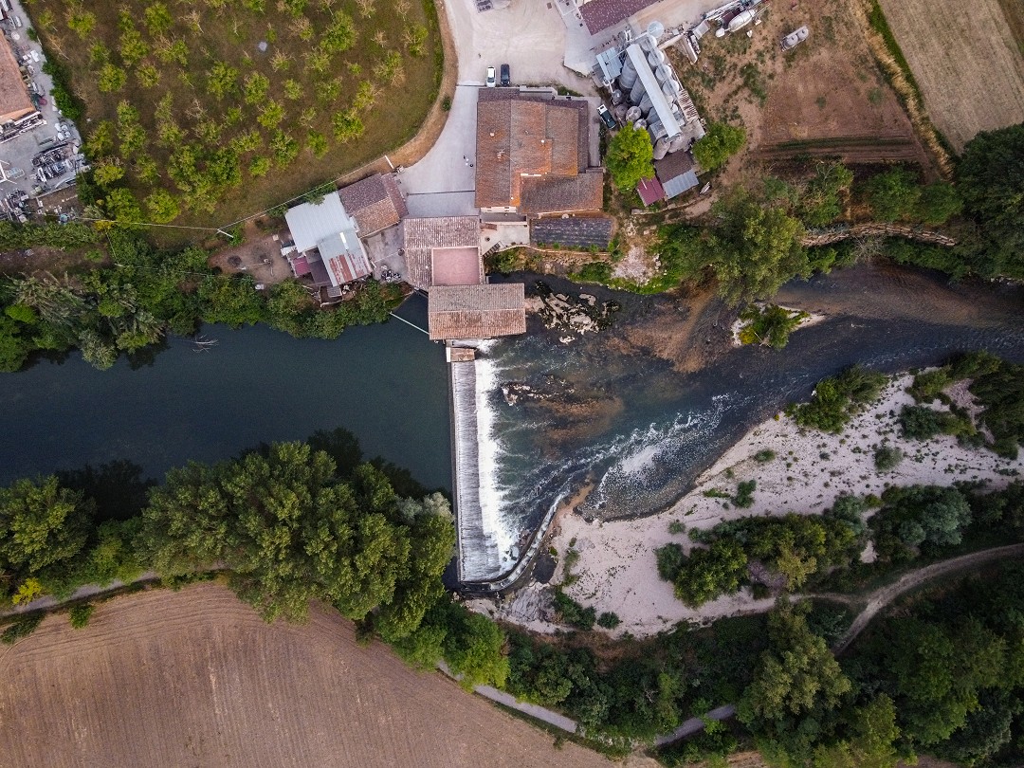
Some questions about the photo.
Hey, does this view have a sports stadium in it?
No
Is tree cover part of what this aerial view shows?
Yes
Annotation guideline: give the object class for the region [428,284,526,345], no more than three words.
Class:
house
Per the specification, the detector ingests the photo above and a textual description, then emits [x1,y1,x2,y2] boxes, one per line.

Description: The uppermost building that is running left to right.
[574,0,669,39]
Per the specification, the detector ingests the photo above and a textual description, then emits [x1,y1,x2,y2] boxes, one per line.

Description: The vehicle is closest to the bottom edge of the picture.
[597,101,619,128]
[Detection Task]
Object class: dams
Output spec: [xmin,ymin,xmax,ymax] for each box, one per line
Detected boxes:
[449,361,500,579]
